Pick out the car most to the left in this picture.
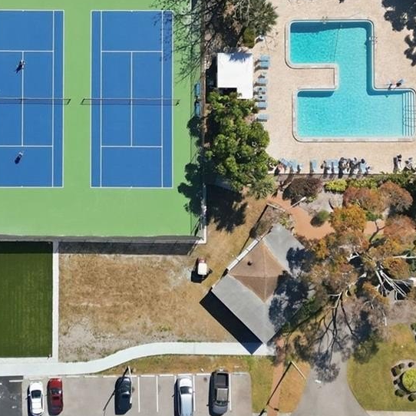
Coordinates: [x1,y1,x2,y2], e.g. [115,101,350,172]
[28,380,44,416]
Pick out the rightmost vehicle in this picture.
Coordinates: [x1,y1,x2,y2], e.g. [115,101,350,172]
[211,369,230,412]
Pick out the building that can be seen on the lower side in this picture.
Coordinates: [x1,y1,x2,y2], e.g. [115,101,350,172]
[212,224,327,343]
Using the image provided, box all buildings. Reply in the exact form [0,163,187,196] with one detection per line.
[217,54,253,98]
[212,224,327,343]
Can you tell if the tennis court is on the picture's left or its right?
left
